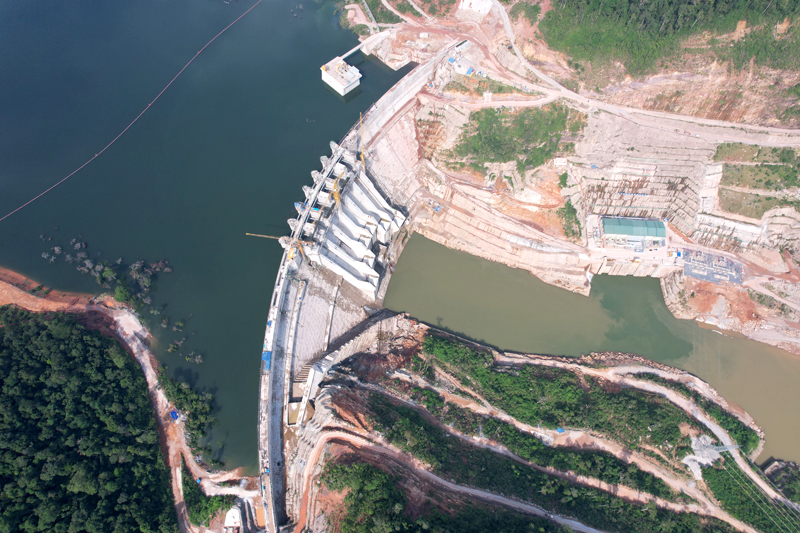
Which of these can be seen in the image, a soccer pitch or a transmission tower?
transmission tower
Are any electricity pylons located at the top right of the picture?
No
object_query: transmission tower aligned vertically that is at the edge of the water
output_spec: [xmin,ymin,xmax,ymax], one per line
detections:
[693,265,772,513]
